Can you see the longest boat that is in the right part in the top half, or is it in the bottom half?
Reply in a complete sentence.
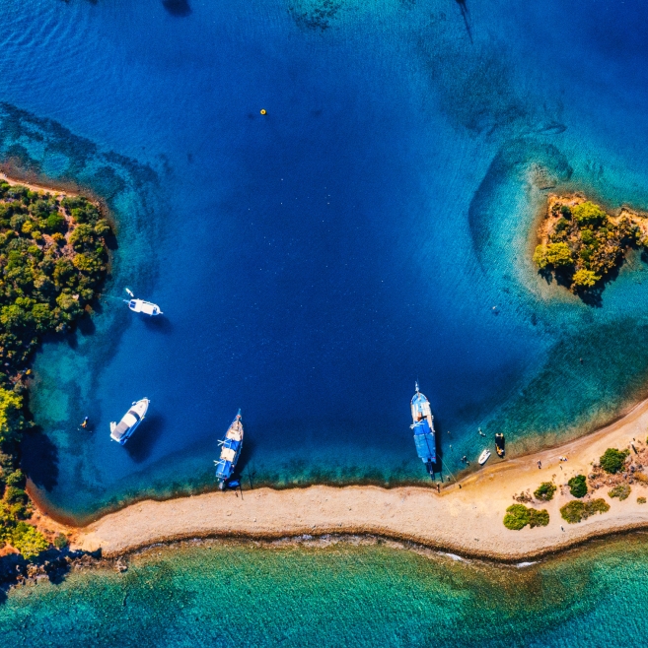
The longest boat that is in the right part is in the bottom half of the image.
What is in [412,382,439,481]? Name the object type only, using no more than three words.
boat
